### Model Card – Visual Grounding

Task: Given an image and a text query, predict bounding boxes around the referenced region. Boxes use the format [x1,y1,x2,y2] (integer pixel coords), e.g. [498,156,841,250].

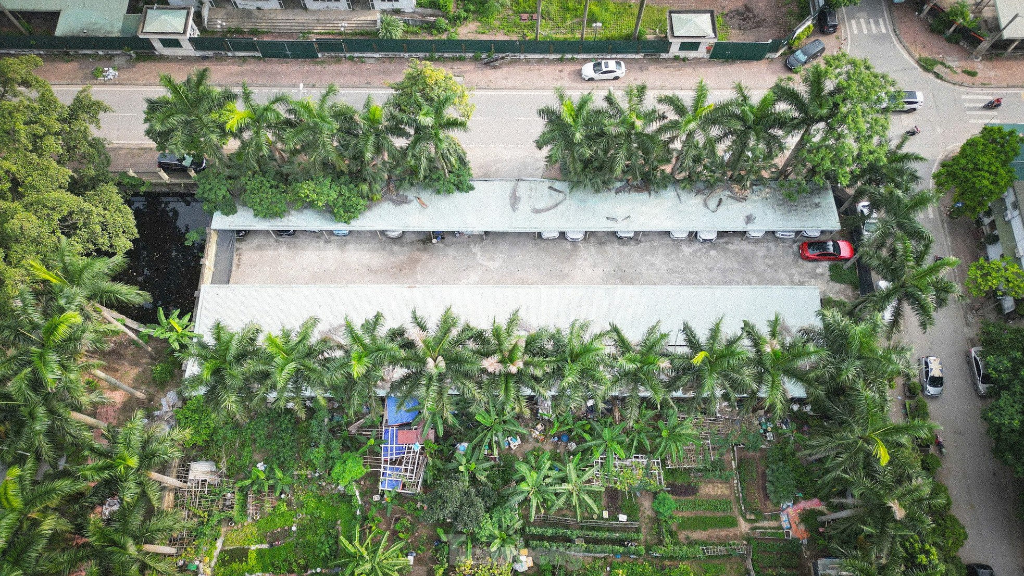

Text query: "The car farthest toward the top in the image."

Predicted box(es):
[817,2,845,40]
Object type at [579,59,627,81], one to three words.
car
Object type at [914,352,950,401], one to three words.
car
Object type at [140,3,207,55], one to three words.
building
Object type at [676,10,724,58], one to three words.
building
